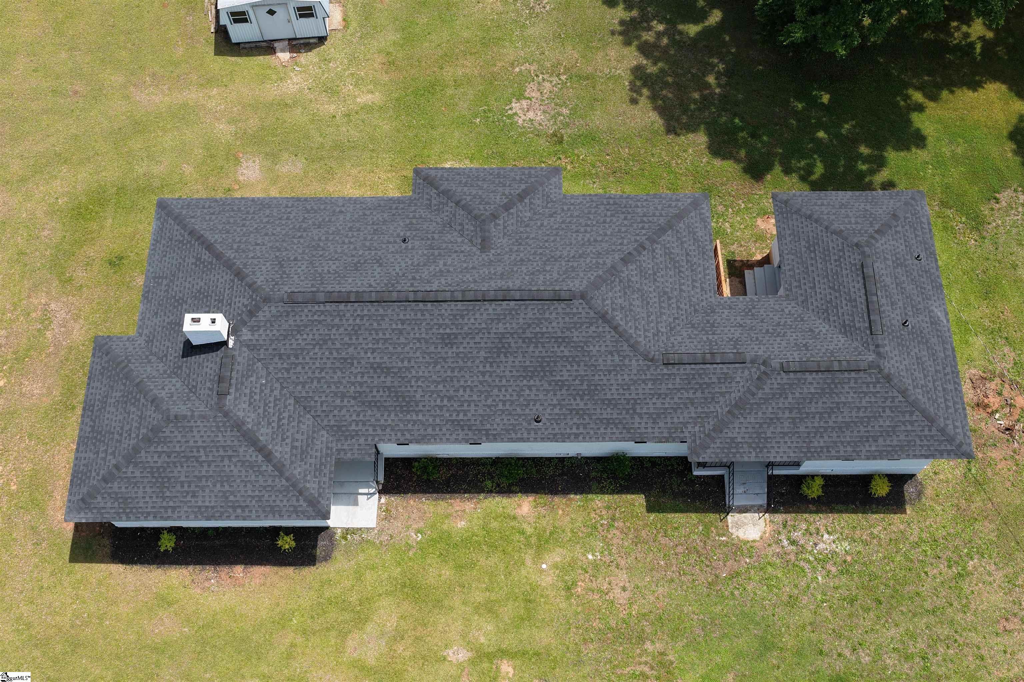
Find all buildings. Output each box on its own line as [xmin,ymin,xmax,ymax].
[64,165,974,530]
[217,0,330,45]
